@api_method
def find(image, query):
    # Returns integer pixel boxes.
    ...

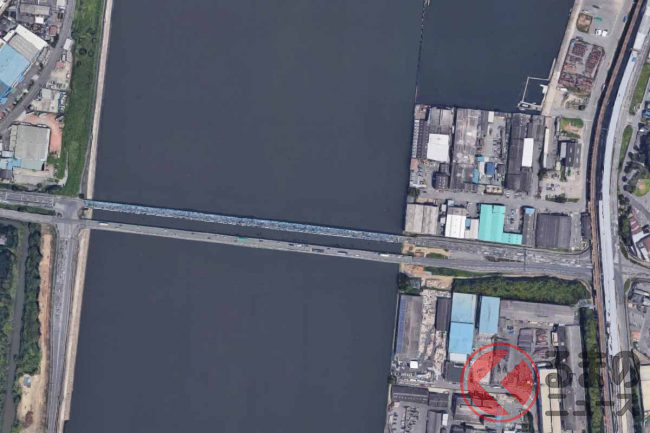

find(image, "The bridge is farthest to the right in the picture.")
[600,0,650,433]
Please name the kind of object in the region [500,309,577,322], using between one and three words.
shed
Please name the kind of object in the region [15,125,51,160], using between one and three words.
building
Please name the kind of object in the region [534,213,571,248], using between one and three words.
building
